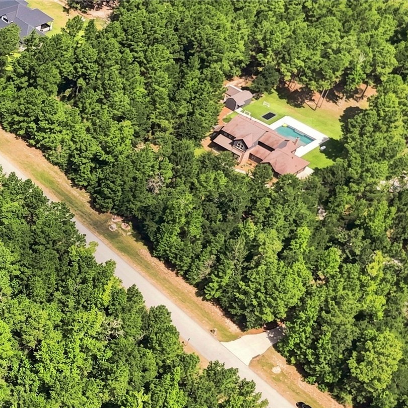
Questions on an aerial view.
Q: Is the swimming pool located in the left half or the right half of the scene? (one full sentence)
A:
It is on the right.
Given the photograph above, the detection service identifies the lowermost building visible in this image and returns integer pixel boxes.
[209,112,312,179]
